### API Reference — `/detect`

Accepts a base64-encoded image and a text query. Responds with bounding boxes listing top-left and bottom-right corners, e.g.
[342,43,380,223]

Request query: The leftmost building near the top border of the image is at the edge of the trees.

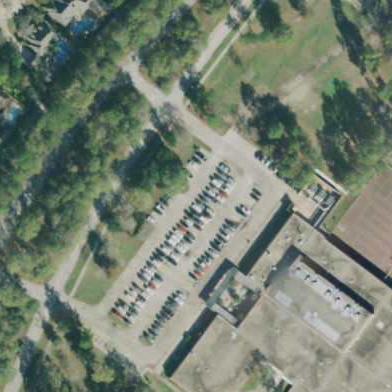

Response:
[18,20,60,61]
